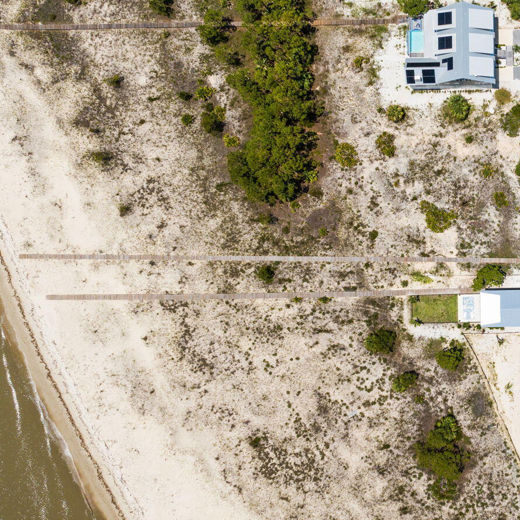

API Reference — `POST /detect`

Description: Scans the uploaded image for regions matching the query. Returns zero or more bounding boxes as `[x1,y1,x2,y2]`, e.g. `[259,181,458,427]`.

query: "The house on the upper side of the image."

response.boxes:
[404,2,513,88]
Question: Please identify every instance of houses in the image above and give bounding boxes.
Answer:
[404,2,513,88]
[458,291,520,327]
